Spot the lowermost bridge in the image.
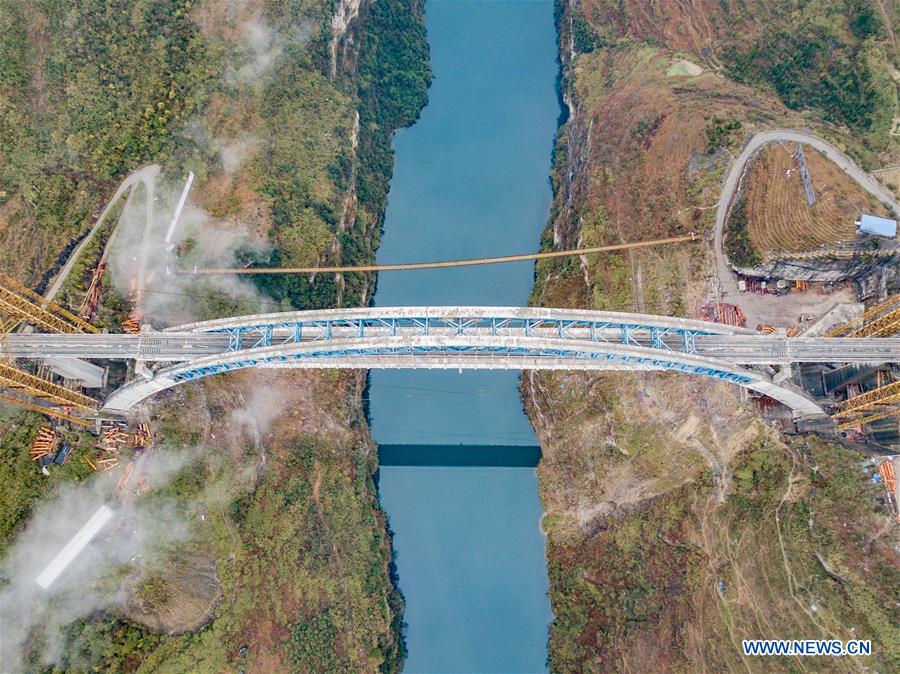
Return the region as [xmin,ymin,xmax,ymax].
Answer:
[0,307,900,418]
